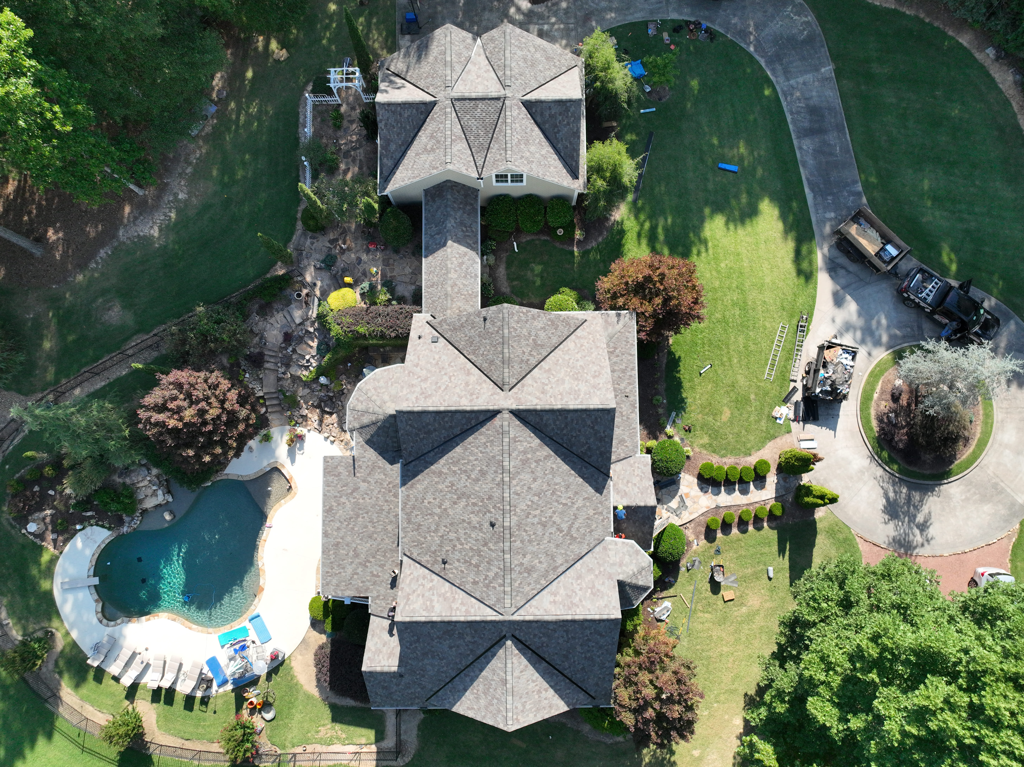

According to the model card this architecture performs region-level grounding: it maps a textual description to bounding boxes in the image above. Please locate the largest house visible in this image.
[321,300,657,736]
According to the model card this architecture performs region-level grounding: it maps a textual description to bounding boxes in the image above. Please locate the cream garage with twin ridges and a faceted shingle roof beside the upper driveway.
[373,23,586,204]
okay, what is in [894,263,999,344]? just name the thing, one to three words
truck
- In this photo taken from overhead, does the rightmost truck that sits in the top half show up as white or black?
black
